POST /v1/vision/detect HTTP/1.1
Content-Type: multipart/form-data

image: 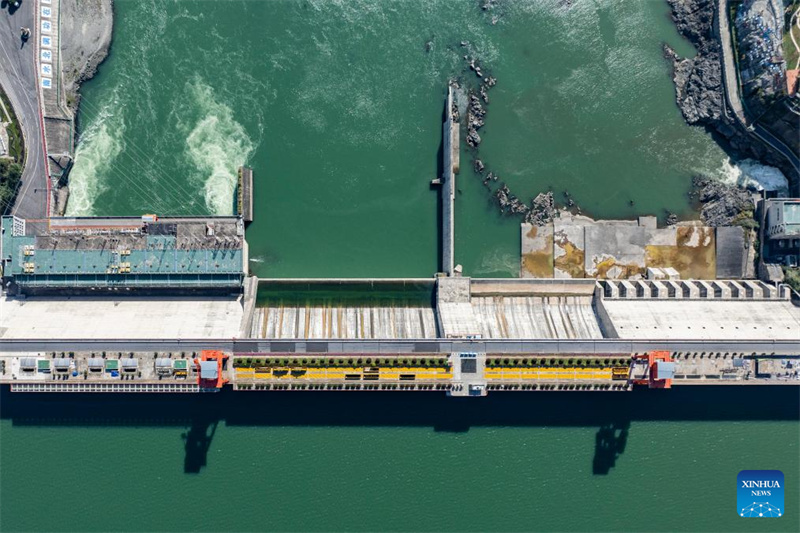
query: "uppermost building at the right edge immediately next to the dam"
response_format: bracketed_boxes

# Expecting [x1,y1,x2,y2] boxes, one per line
[764,199,800,258]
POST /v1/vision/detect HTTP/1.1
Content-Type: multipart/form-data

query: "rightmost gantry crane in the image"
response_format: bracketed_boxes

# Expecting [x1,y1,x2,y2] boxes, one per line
[620,350,674,388]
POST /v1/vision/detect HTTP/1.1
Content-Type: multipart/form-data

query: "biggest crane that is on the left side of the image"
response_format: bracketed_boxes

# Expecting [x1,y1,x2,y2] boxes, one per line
[191,350,237,388]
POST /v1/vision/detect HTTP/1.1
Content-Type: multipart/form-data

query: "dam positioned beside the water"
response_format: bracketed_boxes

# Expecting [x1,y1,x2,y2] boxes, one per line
[0,275,800,396]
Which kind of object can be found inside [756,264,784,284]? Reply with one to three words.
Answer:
shed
